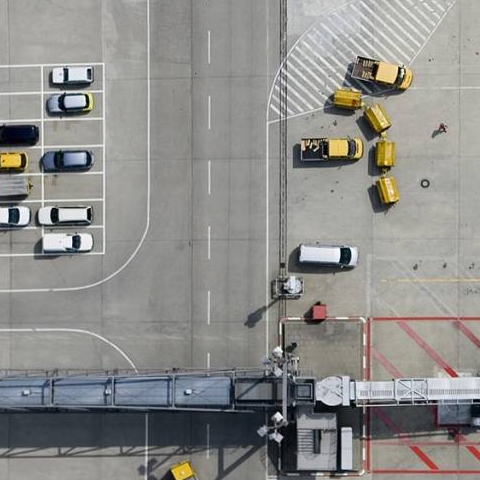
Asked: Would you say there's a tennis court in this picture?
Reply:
No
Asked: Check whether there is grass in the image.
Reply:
No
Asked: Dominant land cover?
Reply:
paved ground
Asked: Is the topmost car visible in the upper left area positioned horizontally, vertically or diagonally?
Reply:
horizontally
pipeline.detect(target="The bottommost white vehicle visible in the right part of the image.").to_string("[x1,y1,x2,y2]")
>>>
[299,243,358,270]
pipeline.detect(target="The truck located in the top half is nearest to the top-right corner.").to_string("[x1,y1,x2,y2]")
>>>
[348,55,413,90]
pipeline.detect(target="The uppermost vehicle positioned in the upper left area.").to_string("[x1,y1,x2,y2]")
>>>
[50,64,94,86]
